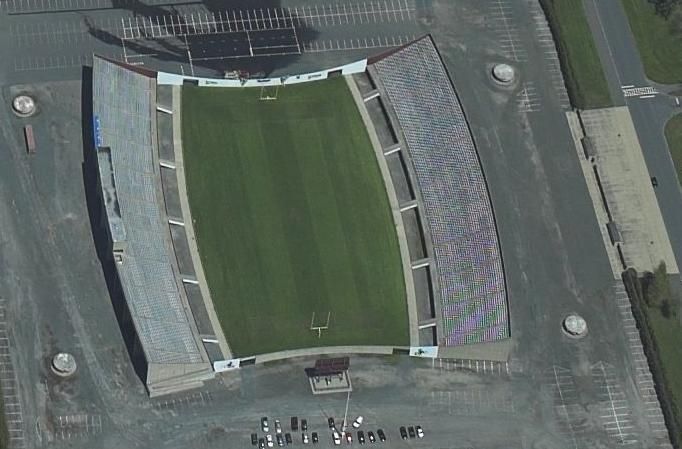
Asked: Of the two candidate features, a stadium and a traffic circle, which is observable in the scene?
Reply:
stadium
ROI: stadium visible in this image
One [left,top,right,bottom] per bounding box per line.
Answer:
[91,34,512,398]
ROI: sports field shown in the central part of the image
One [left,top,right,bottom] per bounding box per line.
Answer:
[172,74,420,371]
